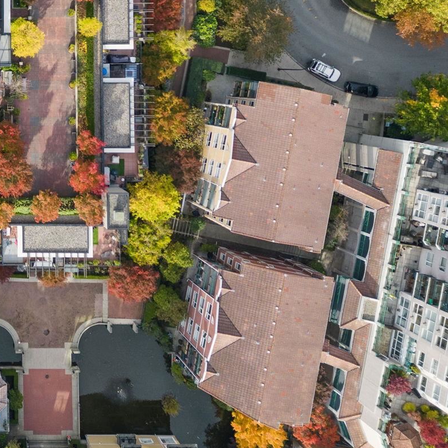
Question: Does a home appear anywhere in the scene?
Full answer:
Yes, the photo shows a home.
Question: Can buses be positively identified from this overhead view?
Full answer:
No, there isn't any bus down there.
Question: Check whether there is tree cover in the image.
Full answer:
Yes, there's tree cover in this view.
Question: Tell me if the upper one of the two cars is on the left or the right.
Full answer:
The upper one of the two cars is on the right side of the image.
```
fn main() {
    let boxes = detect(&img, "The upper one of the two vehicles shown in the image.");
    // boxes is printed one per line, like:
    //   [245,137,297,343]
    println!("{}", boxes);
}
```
[308,59,342,82]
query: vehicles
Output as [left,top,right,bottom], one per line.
[308,59,342,82]
[345,82,379,98]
